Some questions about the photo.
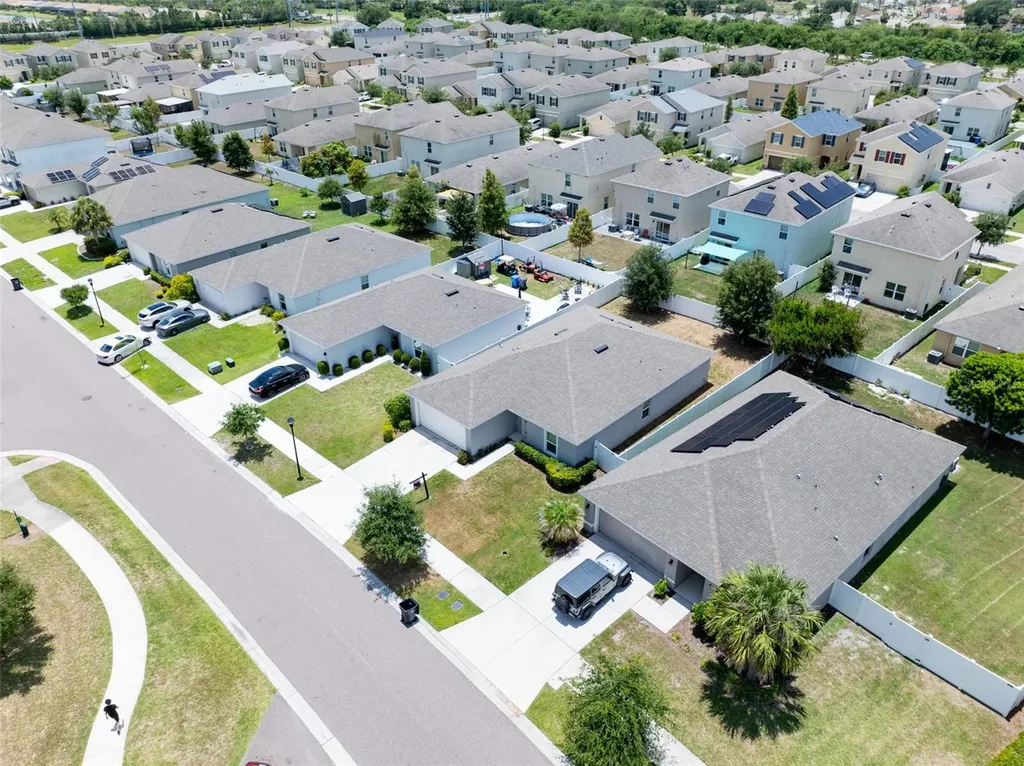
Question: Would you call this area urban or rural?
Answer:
urban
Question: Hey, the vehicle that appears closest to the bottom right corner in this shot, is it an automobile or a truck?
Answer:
automobile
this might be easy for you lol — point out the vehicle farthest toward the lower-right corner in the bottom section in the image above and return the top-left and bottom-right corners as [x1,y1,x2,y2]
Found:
[556,562,635,621]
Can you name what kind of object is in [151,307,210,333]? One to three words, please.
car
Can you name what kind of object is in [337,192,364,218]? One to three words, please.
shed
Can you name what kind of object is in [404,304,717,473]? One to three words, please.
house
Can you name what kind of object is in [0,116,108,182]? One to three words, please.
house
